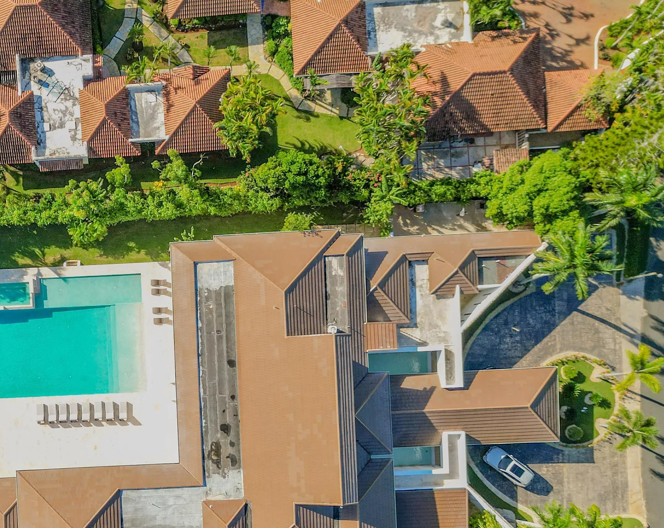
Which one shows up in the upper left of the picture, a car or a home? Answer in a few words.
home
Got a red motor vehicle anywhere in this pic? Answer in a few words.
No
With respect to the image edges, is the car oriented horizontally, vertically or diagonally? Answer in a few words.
diagonally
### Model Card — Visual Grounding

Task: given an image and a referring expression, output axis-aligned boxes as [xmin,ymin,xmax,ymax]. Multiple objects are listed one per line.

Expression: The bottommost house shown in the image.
[0,228,561,528]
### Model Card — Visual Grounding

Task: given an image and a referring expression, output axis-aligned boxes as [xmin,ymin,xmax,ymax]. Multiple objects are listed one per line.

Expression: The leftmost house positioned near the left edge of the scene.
[0,0,233,171]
